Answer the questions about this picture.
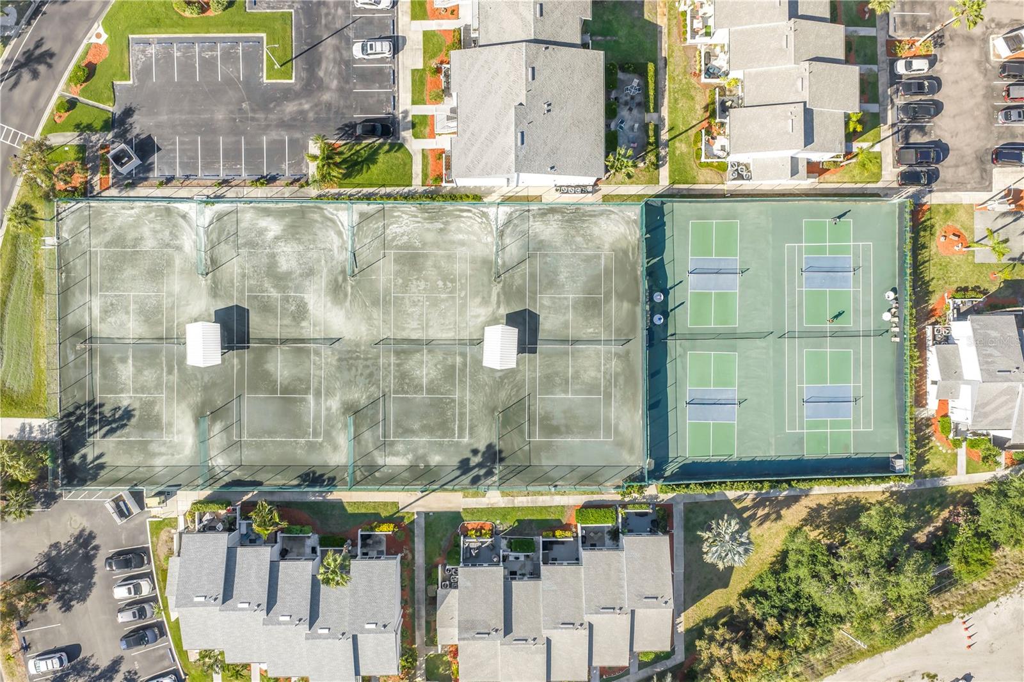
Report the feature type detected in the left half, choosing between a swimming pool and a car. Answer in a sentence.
Visible in the left half is a car.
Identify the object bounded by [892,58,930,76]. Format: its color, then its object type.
white car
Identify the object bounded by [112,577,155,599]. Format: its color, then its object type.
white car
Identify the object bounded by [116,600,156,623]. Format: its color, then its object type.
gray car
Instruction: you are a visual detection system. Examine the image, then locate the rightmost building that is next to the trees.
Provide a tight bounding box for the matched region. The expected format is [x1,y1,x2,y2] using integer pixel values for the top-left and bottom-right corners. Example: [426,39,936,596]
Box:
[928,315,1024,447]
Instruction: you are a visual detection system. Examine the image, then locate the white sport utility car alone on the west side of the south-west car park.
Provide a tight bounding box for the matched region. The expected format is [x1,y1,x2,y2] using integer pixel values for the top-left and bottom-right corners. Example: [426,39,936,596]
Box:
[29,651,71,674]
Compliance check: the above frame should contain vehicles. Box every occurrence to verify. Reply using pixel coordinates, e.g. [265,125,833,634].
[897,78,937,97]
[105,551,150,572]
[989,146,1024,166]
[112,577,155,599]
[995,107,1024,125]
[29,651,71,674]
[895,167,934,185]
[892,58,930,76]
[119,625,163,649]
[896,103,936,121]
[1001,86,1024,104]
[995,61,1024,80]
[894,146,942,166]
[116,600,156,623]
[355,121,395,140]
[353,39,393,59]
